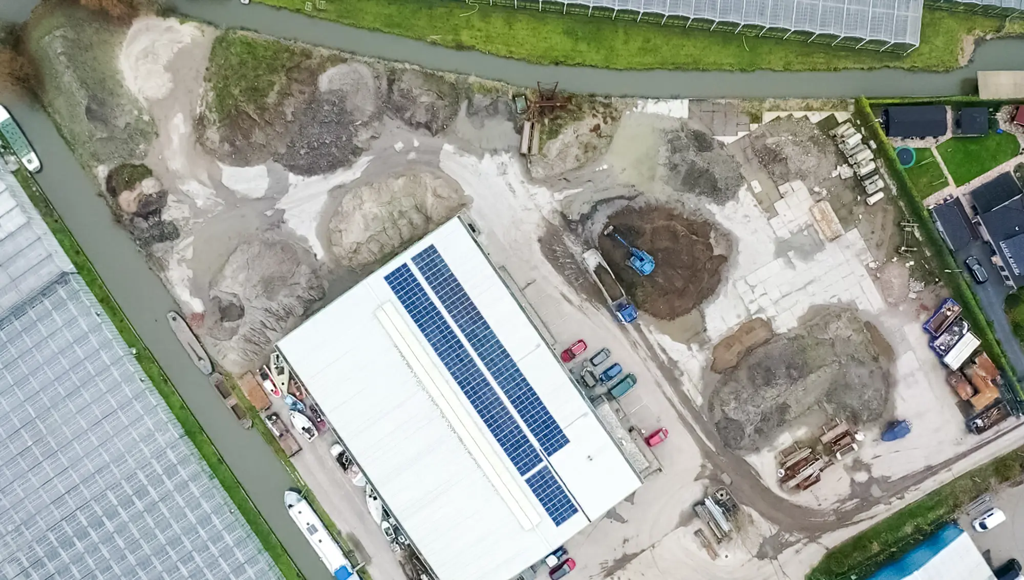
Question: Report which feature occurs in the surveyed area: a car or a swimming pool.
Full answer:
This aerial view contains a car.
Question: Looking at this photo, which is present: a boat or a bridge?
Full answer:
The one in the frame is a boat.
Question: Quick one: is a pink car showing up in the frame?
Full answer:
Yes, this view includes a pink car.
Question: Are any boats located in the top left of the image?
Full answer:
Yes, a boat is visible in the top left of the image.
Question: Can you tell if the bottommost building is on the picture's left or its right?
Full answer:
The bottommost building sits on the right side.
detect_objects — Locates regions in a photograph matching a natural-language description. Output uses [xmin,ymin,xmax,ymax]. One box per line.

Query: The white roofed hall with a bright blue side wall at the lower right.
[862,521,1005,580]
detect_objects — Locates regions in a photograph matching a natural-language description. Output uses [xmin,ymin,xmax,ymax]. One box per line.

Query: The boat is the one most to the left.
[0,101,42,172]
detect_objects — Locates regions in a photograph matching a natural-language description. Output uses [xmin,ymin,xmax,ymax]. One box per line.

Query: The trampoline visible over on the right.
[899,146,918,165]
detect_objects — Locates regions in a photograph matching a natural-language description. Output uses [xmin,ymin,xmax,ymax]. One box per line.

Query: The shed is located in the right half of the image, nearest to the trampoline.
[884,105,949,139]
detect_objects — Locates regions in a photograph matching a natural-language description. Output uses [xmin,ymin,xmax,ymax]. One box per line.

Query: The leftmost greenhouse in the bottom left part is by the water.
[0,272,287,580]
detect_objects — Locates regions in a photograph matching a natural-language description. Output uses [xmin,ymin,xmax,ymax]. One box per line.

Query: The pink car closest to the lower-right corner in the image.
[644,427,671,448]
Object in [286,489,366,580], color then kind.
white boat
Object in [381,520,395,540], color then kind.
white boat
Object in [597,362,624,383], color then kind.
blue car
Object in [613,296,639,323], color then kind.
blue truck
